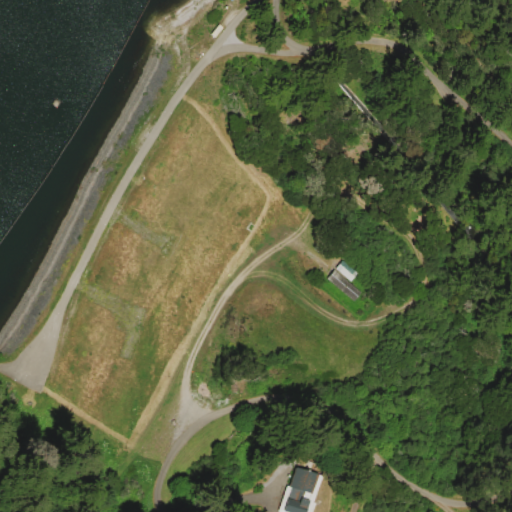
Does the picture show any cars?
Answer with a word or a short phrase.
No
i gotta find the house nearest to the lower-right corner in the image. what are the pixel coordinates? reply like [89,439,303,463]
[279,466,324,512]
